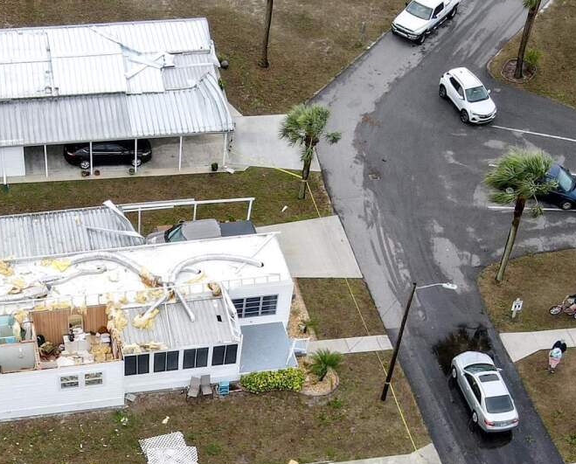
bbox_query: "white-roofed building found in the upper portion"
[0,16,234,191]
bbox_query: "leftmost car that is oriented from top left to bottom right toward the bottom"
[447,352,522,438]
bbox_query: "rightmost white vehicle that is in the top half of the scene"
[431,64,499,126]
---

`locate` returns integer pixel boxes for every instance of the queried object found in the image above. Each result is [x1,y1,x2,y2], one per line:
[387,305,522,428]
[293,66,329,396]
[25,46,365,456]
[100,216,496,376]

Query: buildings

[0,16,234,191]
[0,197,319,420]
